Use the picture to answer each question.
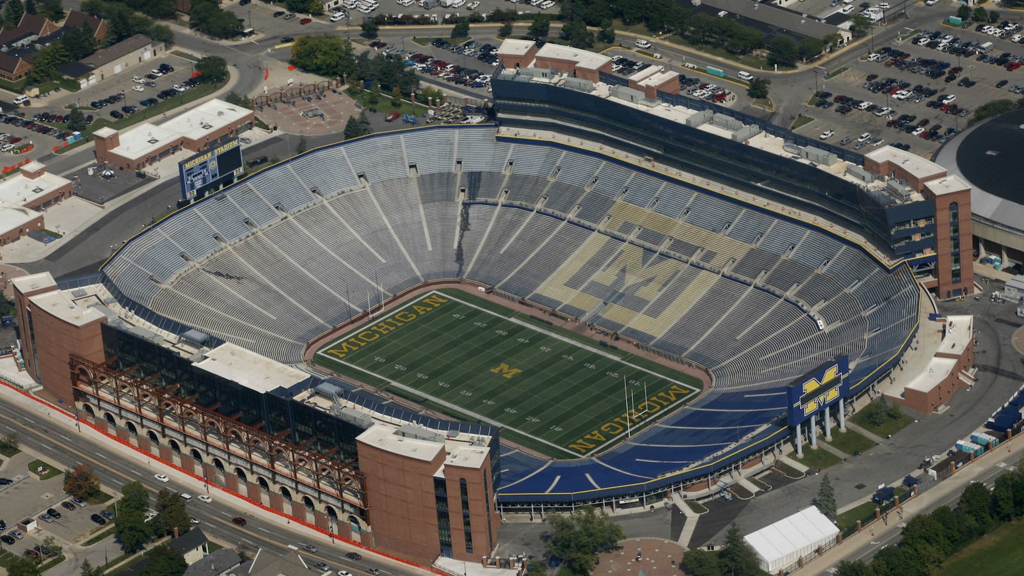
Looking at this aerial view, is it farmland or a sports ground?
sports ground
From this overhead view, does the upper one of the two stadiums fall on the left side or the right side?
right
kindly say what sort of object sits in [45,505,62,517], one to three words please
vehicle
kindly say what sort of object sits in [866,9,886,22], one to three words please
vehicle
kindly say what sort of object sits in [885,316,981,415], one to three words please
building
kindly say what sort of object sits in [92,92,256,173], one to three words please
building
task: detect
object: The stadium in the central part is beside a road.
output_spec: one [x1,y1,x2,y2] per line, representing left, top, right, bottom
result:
[95,123,929,529]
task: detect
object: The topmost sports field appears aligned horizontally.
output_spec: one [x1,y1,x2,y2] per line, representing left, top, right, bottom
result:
[312,288,705,461]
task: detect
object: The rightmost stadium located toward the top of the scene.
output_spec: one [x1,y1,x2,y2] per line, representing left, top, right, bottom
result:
[930,103,1024,286]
